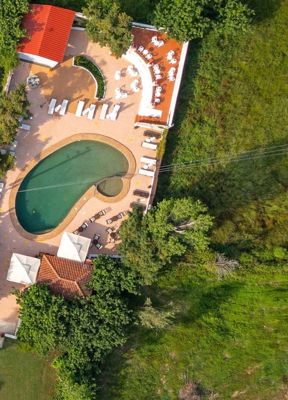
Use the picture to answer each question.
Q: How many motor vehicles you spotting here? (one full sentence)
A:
The photo contains no motor vehicles.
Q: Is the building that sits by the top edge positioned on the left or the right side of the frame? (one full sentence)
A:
The building that sits by the top edge sits on the left side.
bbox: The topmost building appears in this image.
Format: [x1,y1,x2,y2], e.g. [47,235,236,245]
[14,4,76,65]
